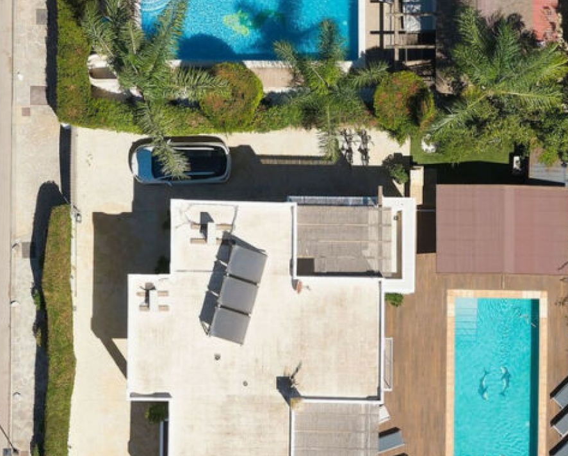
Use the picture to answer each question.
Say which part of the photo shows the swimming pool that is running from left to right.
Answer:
top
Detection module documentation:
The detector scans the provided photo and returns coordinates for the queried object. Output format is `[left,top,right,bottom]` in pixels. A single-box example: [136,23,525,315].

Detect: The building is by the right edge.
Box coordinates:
[434,184,568,277]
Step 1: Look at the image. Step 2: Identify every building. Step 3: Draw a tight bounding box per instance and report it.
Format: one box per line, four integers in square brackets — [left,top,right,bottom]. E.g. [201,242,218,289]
[127,197,415,456]
[434,184,568,277]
